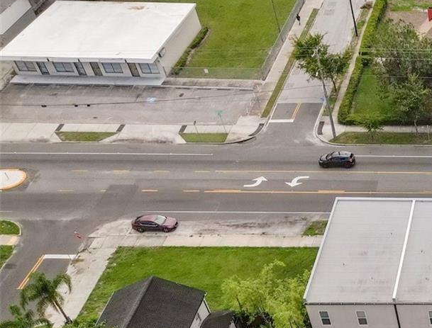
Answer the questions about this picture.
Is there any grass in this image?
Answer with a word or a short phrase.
Yes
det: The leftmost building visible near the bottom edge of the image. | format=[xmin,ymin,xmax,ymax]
[96,274,210,328]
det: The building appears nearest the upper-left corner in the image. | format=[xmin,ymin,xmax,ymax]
[0,0,41,55]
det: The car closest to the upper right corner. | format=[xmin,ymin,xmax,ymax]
[318,151,356,167]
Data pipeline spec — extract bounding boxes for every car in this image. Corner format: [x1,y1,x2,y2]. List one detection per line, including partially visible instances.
[130,213,179,232]
[318,151,356,167]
